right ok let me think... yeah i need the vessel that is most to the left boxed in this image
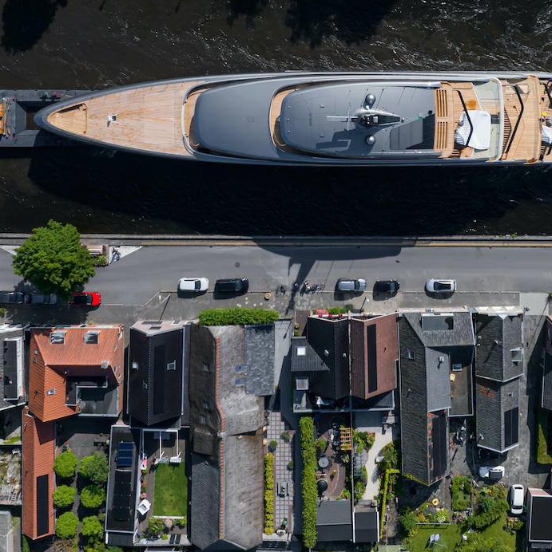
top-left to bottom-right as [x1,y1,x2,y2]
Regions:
[0,90,97,146]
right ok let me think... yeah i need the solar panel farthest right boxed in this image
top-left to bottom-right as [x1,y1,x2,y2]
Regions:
[505,407,518,448]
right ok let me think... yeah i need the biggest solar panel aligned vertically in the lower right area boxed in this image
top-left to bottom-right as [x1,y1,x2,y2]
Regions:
[433,416,447,478]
